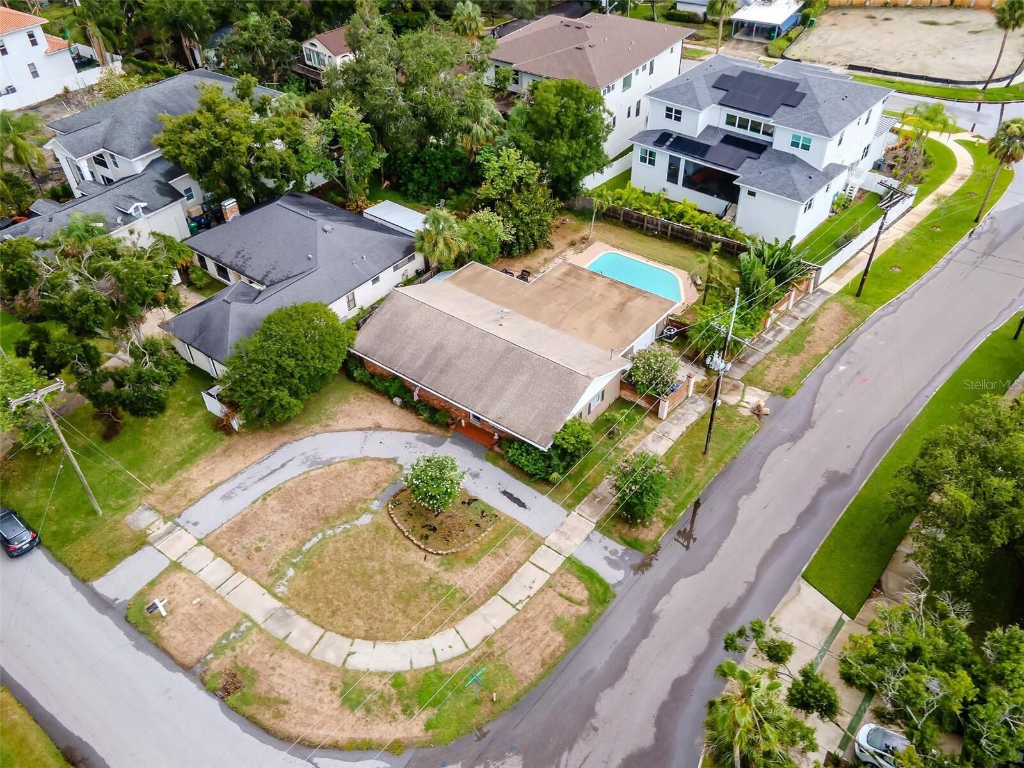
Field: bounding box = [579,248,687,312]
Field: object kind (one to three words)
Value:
swimming pool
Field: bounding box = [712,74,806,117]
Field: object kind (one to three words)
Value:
solar panel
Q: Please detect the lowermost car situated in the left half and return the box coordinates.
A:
[0,512,35,561]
